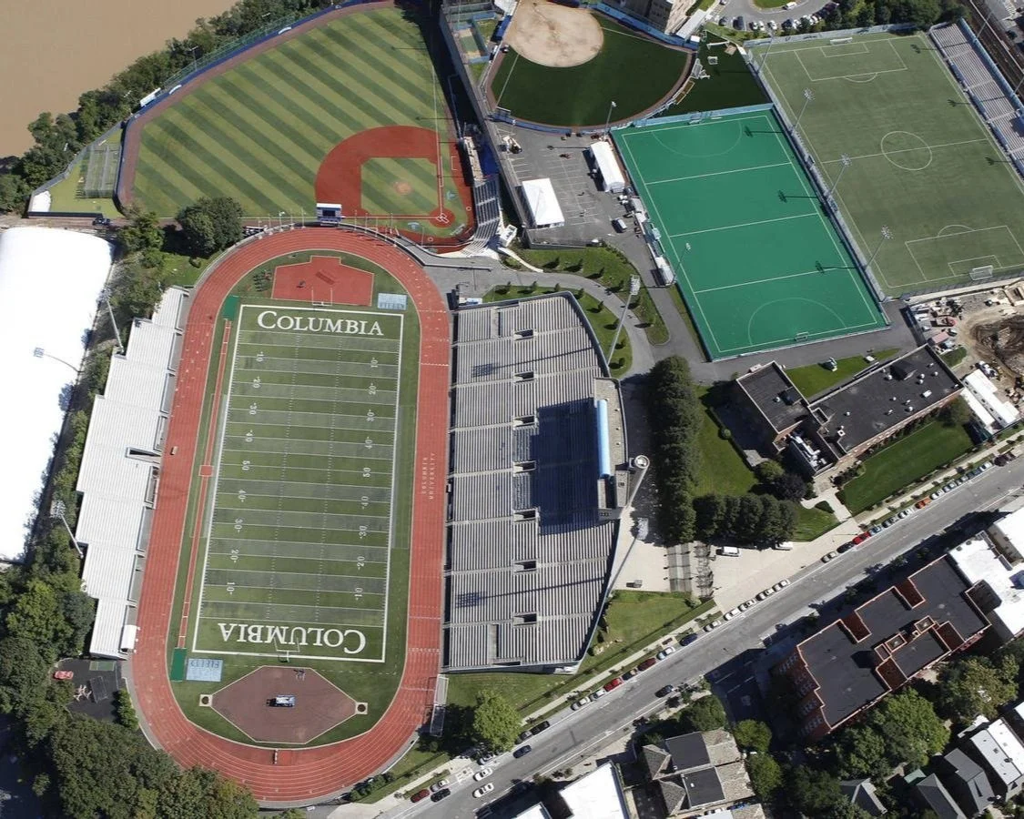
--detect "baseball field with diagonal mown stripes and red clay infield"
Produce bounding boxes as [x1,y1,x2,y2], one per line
[117,0,477,252]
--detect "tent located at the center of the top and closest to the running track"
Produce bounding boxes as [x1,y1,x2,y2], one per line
[521,178,564,231]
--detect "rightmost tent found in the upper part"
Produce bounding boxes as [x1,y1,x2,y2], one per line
[589,142,624,196]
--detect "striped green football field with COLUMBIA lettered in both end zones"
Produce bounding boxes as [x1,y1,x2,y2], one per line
[168,249,421,749]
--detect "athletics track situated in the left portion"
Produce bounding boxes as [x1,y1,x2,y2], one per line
[129,228,451,802]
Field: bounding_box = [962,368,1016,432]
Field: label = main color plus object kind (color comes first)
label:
white trailer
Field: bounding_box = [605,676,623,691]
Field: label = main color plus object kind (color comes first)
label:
red car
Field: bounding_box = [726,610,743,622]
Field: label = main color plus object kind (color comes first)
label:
white vehicle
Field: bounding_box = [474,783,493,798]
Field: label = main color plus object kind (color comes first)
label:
white car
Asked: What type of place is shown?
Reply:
sports ground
